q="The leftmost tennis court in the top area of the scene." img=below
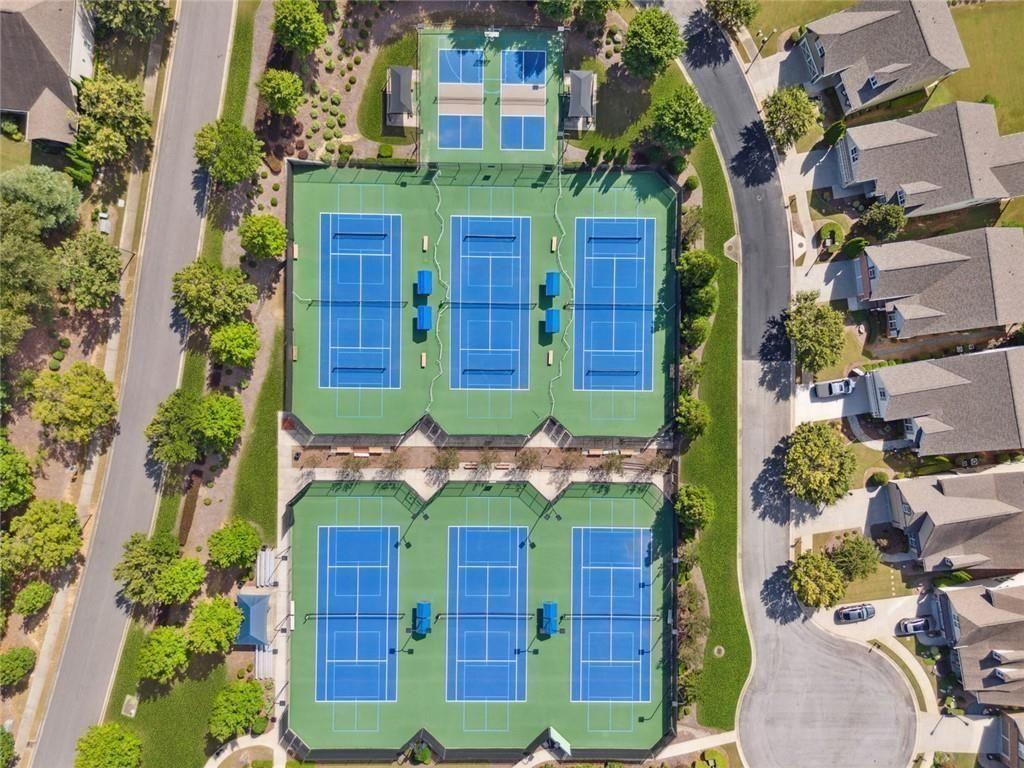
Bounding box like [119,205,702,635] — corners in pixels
[319,185,401,417]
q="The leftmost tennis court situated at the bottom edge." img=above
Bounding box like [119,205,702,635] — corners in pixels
[316,498,400,731]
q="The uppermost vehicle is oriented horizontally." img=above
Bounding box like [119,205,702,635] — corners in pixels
[817,379,859,399]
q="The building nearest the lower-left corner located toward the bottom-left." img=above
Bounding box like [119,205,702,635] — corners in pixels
[233,588,277,644]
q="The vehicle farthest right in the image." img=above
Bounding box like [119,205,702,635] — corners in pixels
[899,617,932,636]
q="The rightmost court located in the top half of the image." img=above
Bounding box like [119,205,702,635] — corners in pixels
[573,189,656,419]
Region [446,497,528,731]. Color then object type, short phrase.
blue tennis court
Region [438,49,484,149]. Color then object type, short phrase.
blue sports court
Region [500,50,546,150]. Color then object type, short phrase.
blue sports court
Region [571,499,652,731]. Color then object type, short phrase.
blue tennis court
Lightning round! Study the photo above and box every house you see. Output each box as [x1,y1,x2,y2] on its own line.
[798,0,967,110]
[850,228,1024,340]
[926,573,1024,704]
[0,0,94,148]
[886,463,1024,567]
[861,347,1024,456]
[835,101,1024,225]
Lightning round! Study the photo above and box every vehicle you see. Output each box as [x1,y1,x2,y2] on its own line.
[817,379,859,399]
[899,617,932,636]
[840,605,877,624]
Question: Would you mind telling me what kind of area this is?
residential area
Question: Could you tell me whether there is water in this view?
No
